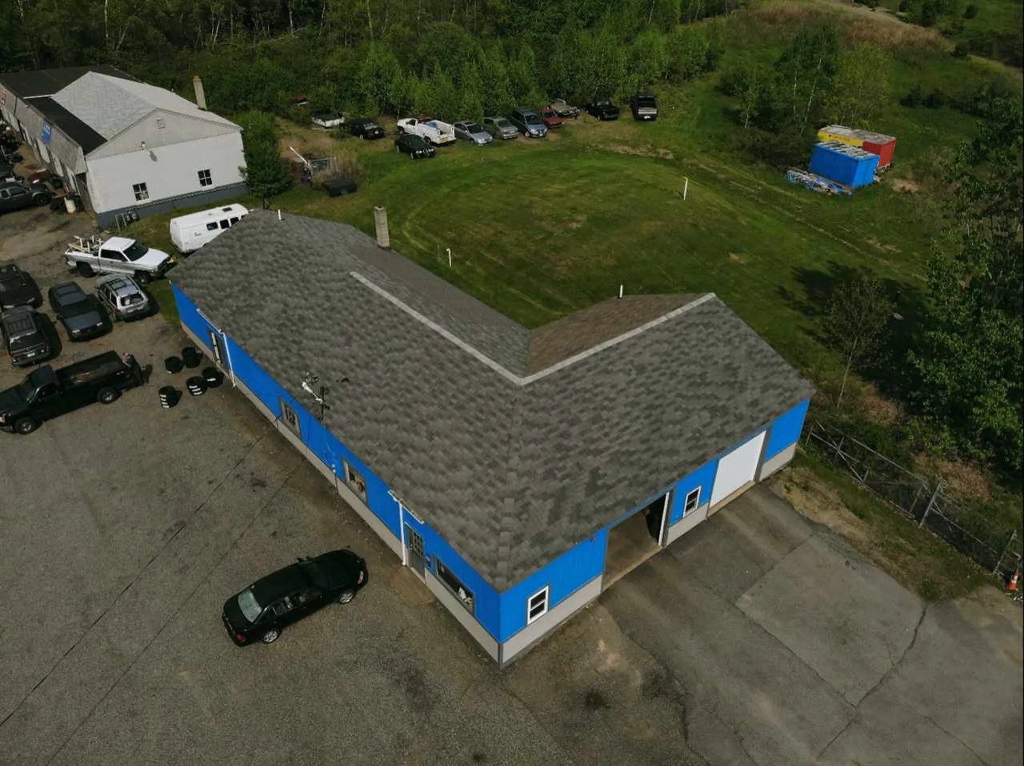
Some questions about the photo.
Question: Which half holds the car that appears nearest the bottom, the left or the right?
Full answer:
The car that appears nearest the bottom sits on the left side.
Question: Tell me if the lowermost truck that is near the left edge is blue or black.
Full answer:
In this view, the lowermost truck that is near the left edge is black.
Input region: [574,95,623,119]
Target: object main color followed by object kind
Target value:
black truck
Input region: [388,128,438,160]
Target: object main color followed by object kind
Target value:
black car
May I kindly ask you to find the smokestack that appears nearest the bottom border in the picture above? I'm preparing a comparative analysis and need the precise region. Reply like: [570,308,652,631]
[375,205,390,245]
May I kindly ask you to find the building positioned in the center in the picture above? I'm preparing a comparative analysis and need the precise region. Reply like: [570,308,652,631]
[168,209,816,667]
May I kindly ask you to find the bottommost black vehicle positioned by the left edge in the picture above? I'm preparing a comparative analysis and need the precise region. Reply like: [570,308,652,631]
[0,359,129,436]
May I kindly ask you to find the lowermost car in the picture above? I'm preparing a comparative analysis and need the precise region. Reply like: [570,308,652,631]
[219,549,371,650]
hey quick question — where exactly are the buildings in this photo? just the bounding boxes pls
[168,209,816,667]
[0,59,252,225]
